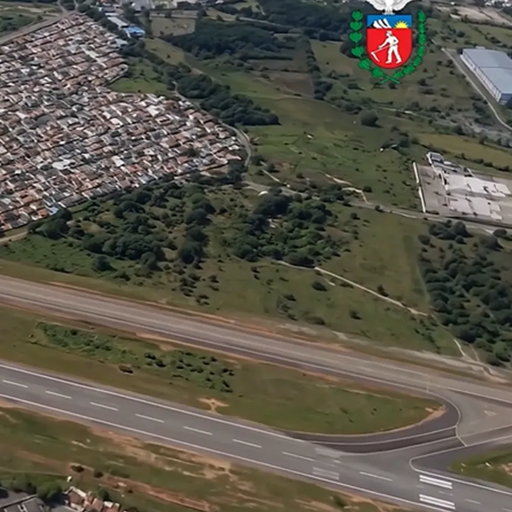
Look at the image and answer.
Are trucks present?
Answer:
No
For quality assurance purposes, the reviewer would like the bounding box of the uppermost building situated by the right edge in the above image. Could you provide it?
[460,49,512,102]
